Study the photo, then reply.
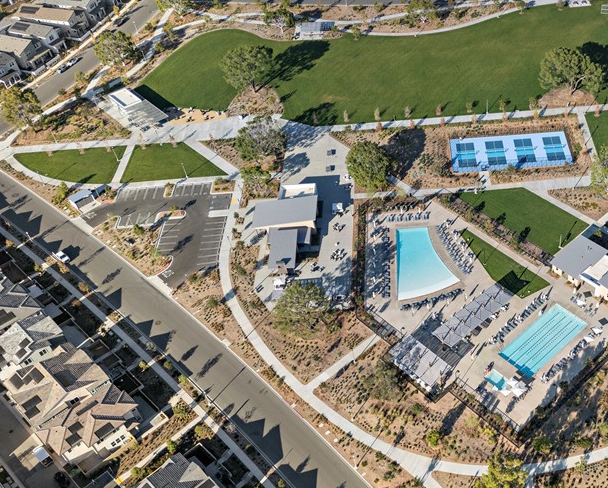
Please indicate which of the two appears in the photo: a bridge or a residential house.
residential house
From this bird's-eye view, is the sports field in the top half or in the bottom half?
top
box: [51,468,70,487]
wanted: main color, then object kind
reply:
black car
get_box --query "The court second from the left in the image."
[484,140,507,165]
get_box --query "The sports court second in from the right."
[513,138,536,162]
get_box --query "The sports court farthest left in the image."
[456,142,478,167]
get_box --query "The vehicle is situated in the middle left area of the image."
[53,248,69,261]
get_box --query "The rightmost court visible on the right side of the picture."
[542,136,566,160]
